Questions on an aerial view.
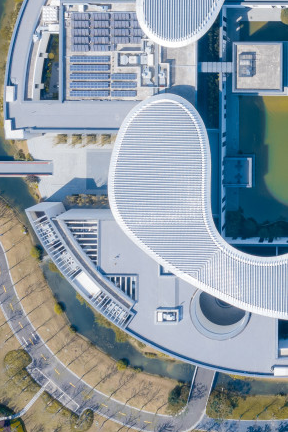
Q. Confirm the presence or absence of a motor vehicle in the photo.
No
